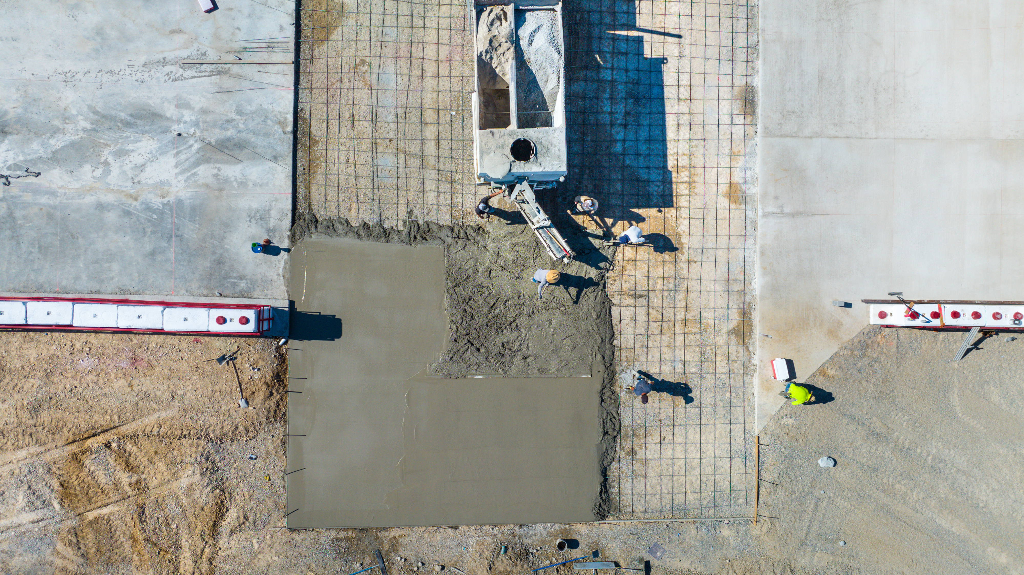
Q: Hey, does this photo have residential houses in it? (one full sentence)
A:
No, no residential house is visible in the scene.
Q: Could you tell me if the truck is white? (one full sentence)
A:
Yes, white is the color of the truck.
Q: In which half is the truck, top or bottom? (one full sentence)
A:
It is in the top half that the truck appears.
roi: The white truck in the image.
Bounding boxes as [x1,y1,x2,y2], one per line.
[469,0,573,264]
